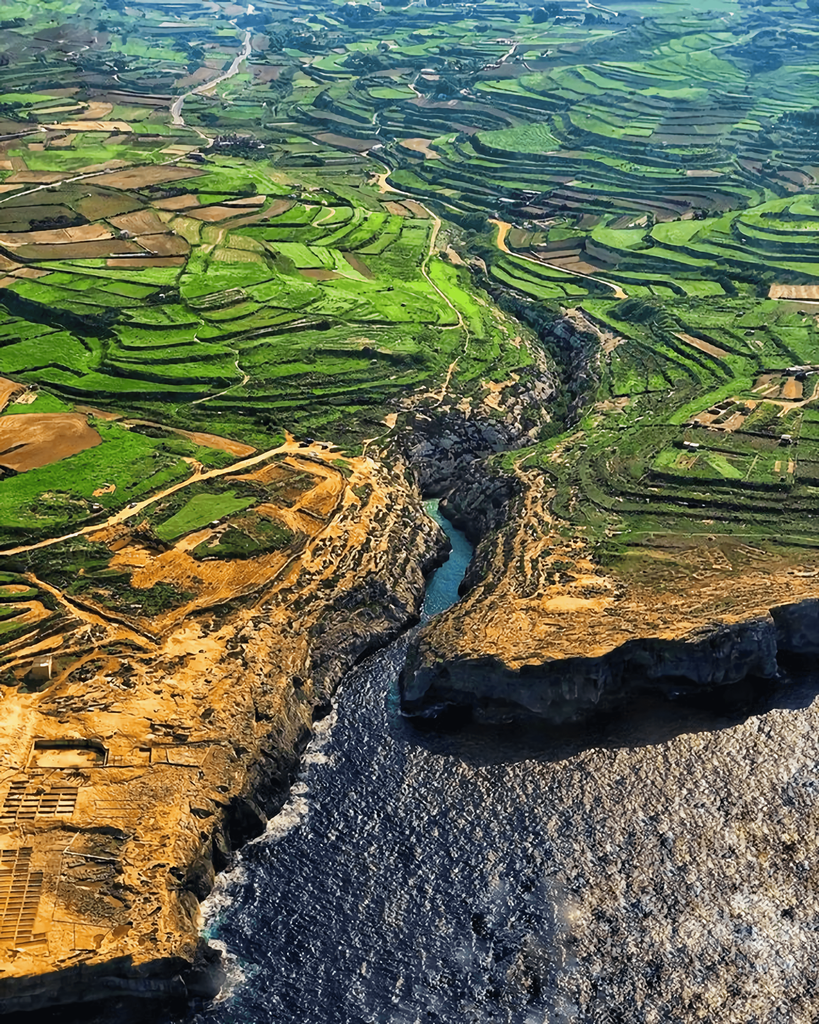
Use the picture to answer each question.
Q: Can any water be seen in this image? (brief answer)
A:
Yes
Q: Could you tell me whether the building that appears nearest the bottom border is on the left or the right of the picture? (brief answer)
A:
left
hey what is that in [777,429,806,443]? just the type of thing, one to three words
shed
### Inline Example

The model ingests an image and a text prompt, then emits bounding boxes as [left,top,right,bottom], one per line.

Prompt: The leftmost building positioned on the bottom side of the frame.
[27,653,53,676]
